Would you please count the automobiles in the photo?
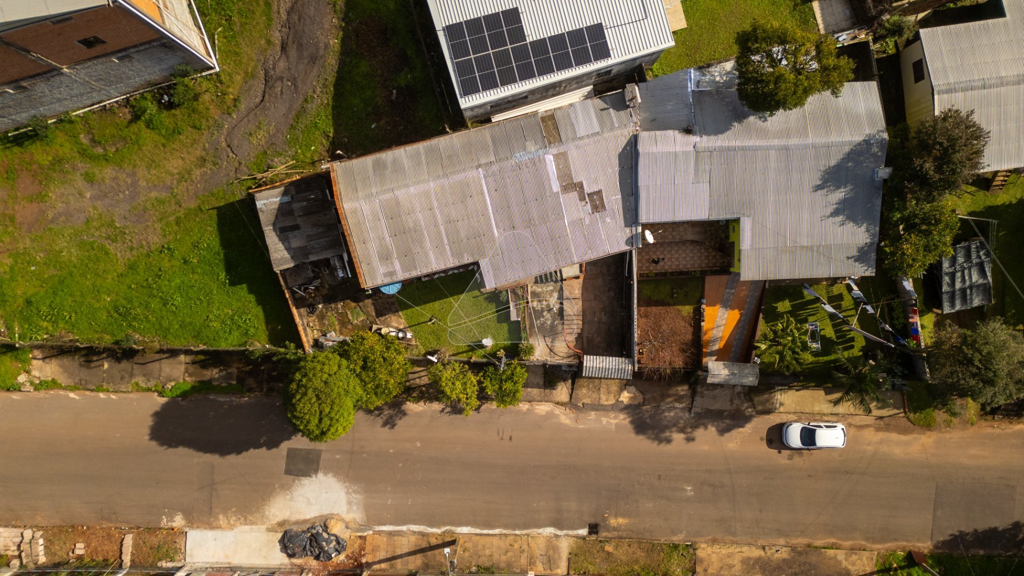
1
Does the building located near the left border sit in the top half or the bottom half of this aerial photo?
top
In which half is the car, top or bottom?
bottom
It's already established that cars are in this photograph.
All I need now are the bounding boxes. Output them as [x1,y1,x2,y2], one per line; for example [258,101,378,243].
[780,418,847,449]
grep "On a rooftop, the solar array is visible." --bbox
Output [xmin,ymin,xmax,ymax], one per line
[444,8,613,97]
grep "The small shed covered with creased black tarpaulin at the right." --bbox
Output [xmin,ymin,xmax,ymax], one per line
[925,239,993,314]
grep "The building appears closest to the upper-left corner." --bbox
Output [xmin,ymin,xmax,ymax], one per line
[0,0,219,130]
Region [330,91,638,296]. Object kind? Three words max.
house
